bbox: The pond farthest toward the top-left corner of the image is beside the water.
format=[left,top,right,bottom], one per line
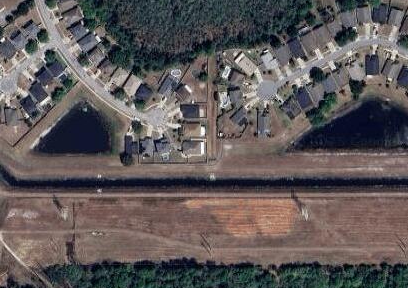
[34,102,110,154]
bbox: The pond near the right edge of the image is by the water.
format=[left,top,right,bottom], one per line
[289,98,408,151]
